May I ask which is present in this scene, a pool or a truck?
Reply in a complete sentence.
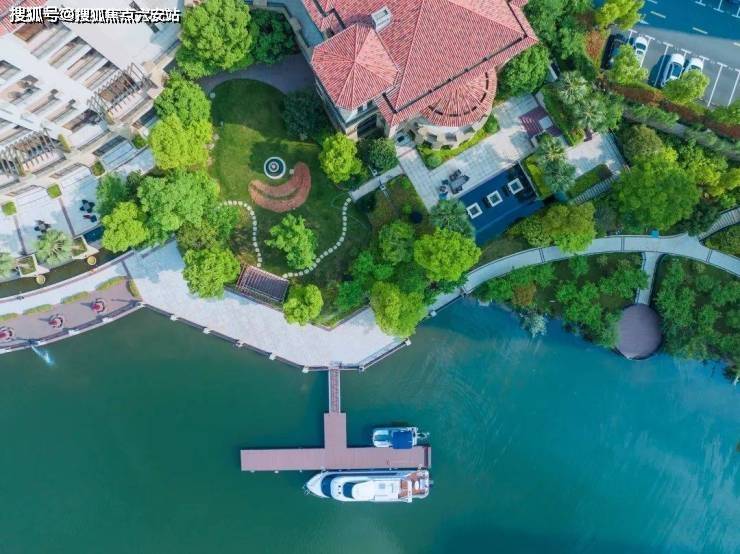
I can see a pool in this picture.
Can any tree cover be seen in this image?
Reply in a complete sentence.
Yes, there's tree cover in this view.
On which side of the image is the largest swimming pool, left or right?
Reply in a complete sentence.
The largest swimming pool is on the right side of the image.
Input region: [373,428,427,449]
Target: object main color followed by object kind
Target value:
blue boat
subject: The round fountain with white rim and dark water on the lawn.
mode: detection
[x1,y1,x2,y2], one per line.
[263,156,286,178]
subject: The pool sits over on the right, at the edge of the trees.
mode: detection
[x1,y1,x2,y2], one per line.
[458,159,549,243]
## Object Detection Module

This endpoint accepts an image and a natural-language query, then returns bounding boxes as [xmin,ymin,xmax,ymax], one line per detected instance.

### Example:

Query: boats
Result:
[303,464,432,503]
[373,428,427,449]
